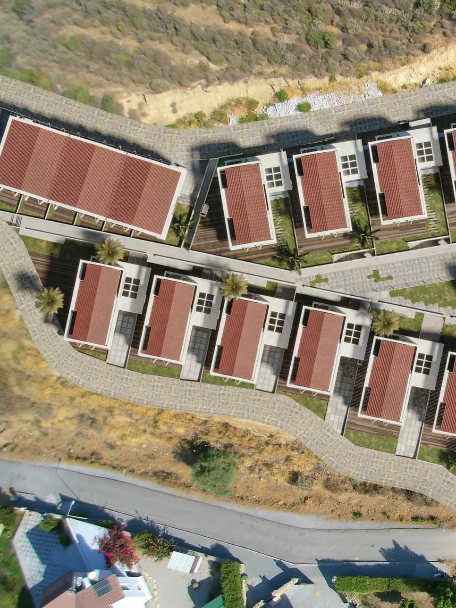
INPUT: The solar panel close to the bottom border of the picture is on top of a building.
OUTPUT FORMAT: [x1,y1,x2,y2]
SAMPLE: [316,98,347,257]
[91,580,112,598]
